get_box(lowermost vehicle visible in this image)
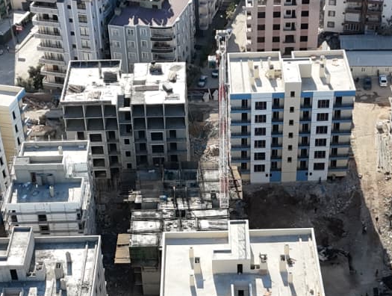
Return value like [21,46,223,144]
[320,242,357,260]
